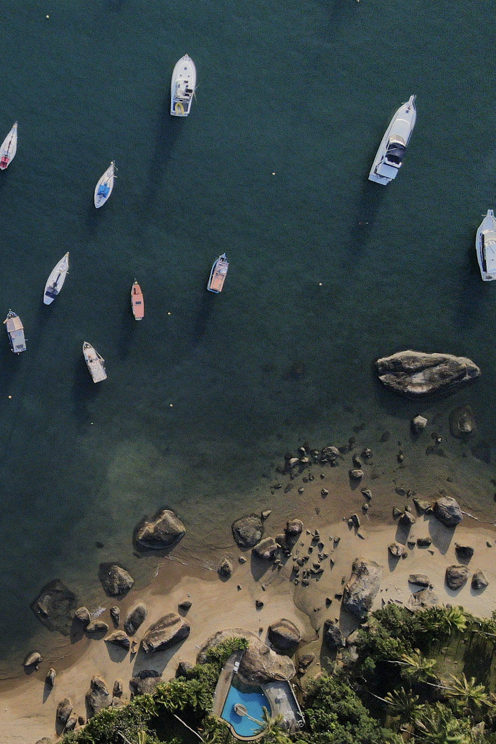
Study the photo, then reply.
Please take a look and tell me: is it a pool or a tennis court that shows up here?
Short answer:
pool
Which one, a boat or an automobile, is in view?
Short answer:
boat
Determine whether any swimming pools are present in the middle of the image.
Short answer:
No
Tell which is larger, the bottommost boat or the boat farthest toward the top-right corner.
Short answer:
the boat farthest toward the top-right corner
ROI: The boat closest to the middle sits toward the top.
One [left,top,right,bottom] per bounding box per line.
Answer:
[206,253,232,294]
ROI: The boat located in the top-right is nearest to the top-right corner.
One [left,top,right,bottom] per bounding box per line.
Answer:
[362,92,418,191]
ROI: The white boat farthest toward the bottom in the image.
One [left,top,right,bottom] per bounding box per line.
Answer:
[83,343,107,383]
